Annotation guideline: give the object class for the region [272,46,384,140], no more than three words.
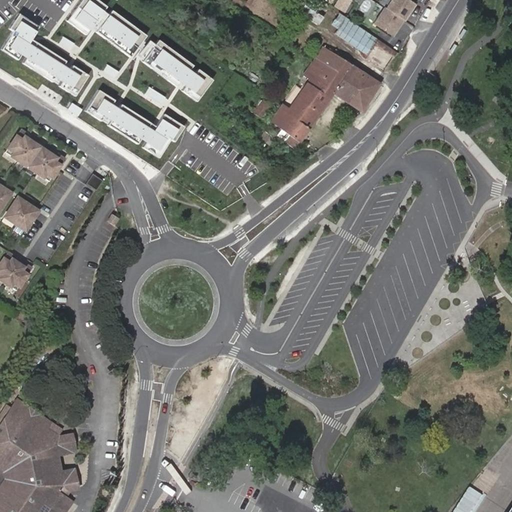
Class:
house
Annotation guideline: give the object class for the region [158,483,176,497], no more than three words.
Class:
vehicle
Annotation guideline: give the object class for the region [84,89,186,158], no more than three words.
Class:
building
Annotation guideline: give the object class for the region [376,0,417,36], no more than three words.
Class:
house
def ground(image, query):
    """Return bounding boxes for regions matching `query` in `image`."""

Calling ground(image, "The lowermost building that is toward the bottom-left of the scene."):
[0,398,80,512]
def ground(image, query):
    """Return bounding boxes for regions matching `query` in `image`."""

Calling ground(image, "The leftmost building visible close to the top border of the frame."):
[0,13,88,96]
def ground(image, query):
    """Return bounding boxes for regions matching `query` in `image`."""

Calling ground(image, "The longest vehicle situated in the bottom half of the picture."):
[161,459,192,494]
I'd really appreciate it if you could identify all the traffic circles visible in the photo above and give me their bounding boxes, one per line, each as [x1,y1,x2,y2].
[116,236,243,369]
